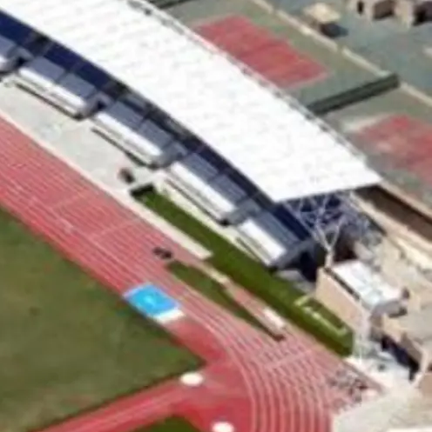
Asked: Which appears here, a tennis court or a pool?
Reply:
tennis court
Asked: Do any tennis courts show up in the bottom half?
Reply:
No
